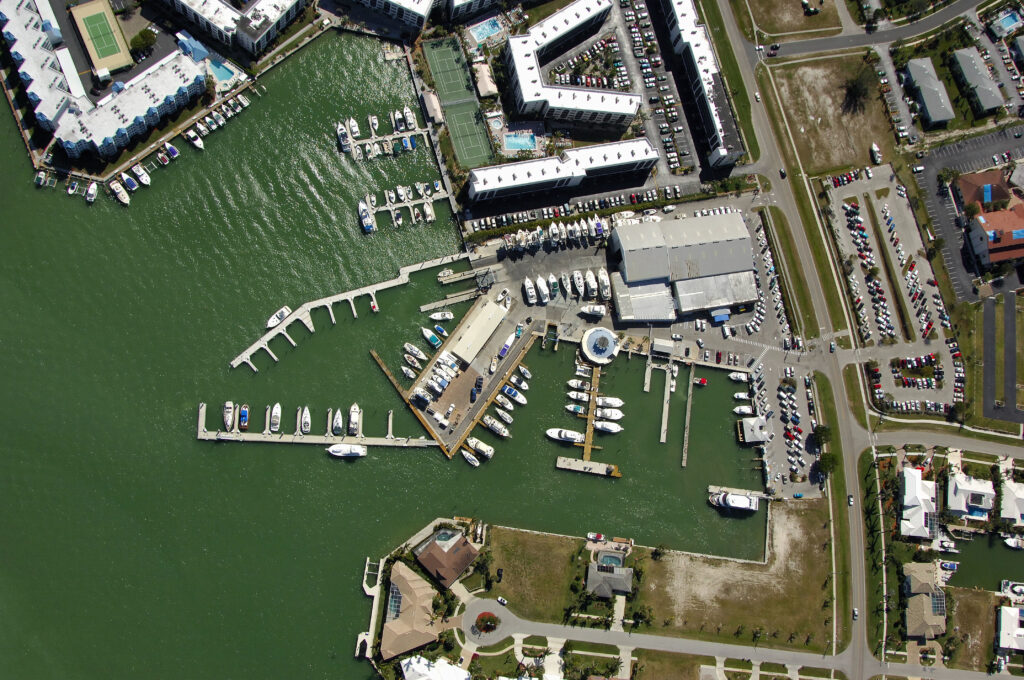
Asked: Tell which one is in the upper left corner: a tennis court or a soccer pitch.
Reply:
tennis court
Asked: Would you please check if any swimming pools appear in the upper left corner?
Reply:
Yes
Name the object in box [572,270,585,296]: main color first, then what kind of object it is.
white boat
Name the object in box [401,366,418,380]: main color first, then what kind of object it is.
white boat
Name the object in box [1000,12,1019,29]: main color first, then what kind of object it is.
blue swimming pool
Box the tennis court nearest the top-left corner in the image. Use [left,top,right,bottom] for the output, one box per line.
[70,0,135,77]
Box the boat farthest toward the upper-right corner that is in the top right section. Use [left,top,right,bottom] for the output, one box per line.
[868,142,882,166]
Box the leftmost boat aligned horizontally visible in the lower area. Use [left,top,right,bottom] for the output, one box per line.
[327,443,368,456]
